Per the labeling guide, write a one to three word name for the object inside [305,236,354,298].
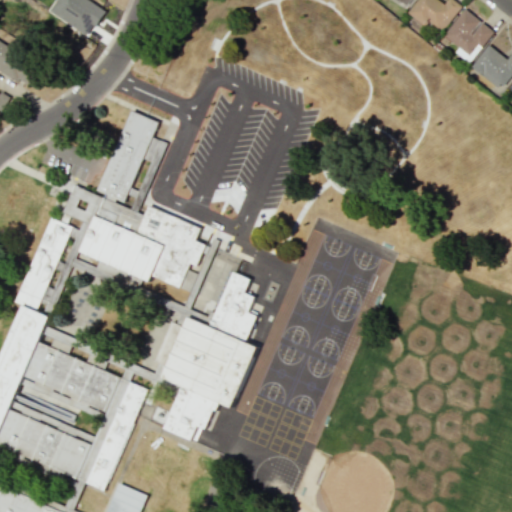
basketball court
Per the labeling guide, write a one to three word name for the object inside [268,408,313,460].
sports court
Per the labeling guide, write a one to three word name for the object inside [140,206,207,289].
building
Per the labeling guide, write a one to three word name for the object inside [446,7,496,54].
house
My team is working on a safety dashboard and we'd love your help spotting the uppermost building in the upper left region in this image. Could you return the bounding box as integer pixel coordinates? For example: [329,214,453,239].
[49,0,106,36]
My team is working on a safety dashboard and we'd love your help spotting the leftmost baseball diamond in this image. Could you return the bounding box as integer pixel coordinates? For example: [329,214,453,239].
[318,451,394,512]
